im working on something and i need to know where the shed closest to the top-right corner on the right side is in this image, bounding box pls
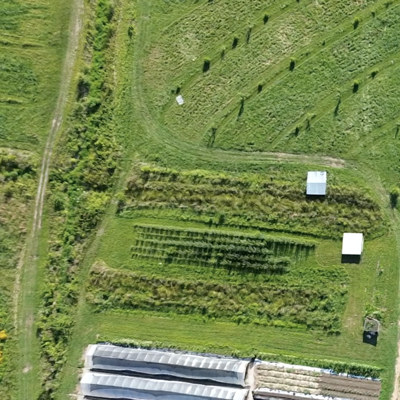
[307,171,327,196]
